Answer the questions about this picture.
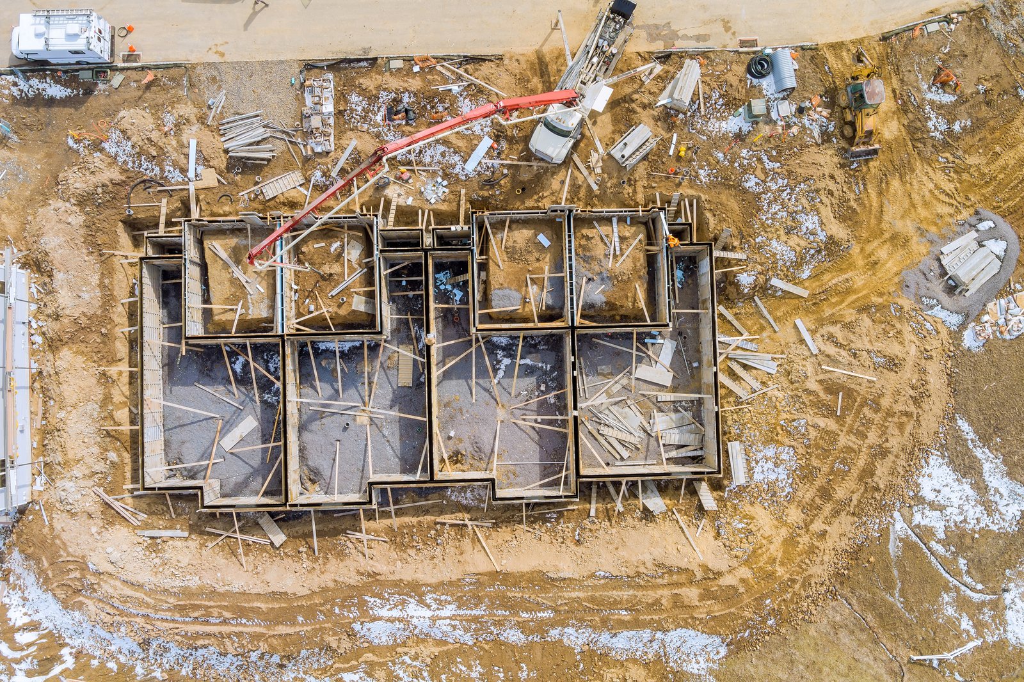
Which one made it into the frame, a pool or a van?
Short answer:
van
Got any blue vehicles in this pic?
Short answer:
No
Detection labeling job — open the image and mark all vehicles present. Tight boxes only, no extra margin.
[247,0,656,280]
[9,12,117,65]
[842,45,891,162]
